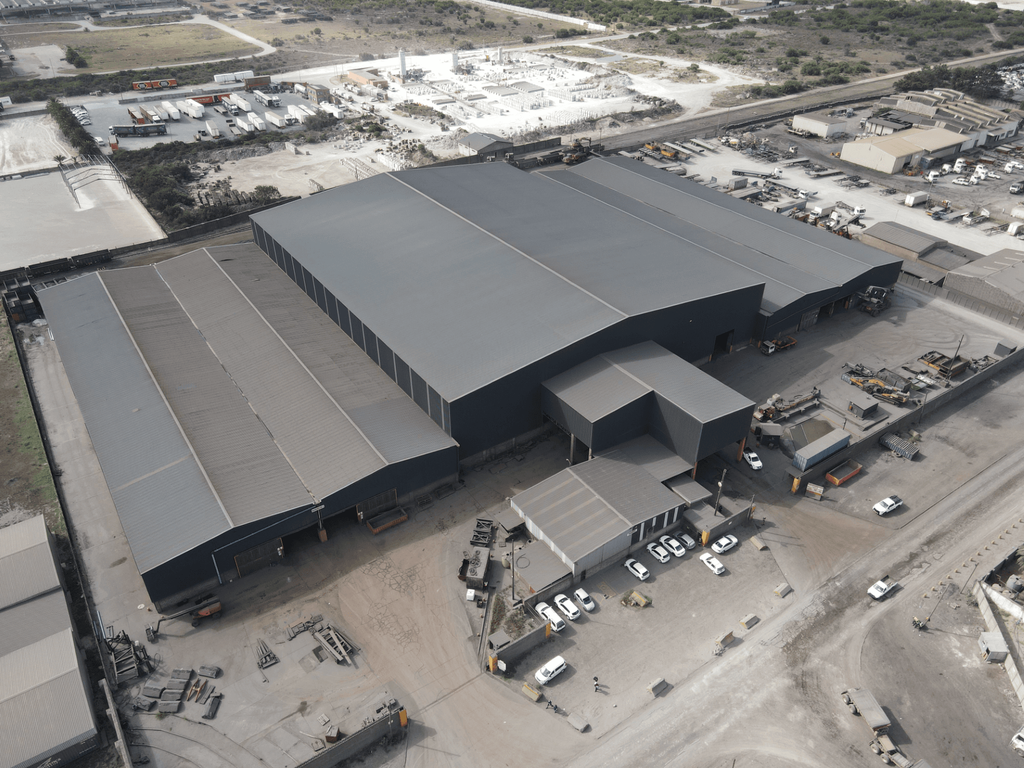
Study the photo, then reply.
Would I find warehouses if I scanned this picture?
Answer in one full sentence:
Yes, a warehouse can be made out from above.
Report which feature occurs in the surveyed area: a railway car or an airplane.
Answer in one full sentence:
The image shows a railway car.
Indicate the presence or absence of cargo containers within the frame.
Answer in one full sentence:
Yes, there's a cargo container down there.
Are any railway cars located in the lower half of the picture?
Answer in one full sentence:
No, I can find no railway car in the lower half of the picture.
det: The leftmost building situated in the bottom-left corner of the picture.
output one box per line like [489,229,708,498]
[0,514,116,768]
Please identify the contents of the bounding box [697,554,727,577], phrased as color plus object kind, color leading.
white car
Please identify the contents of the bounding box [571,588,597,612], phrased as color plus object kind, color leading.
white car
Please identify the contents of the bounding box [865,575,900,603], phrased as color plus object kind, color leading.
white truck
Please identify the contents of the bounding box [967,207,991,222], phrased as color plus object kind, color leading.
white vehicle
